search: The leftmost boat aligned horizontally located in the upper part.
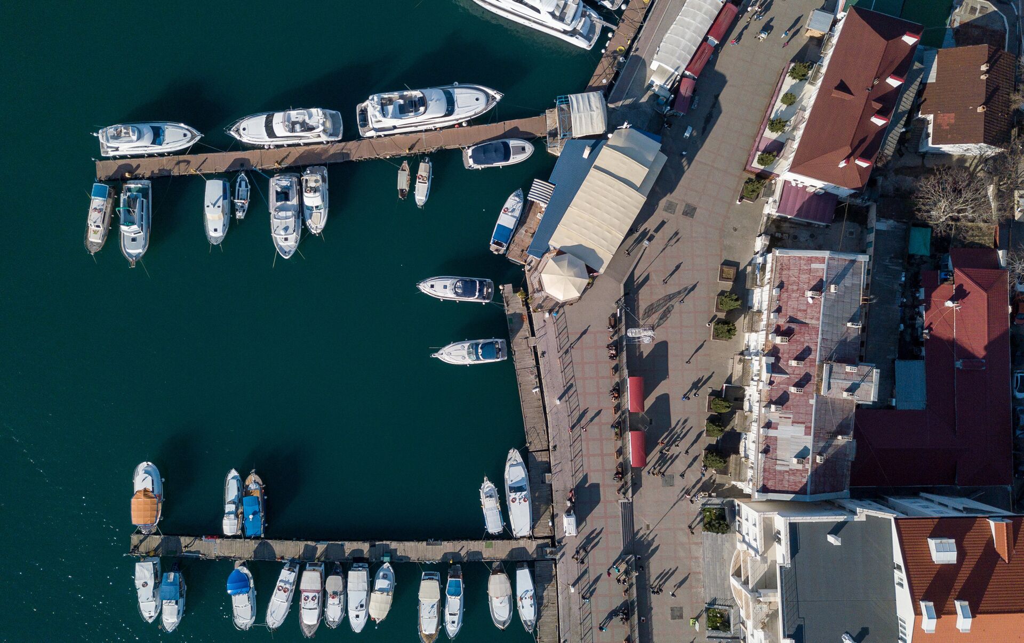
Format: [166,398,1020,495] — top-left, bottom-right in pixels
[98,122,225,160]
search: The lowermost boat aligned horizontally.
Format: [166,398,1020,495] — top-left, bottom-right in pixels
[427,338,509,367]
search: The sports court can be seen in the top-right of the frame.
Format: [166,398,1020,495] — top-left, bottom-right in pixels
[832,0,955,49]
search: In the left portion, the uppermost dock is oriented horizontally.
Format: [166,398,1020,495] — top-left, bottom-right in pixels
[96,115,547,180]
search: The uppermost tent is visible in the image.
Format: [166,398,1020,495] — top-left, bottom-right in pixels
[648,0,726,92]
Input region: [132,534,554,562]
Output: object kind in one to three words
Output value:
pier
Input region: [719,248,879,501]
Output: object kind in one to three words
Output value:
building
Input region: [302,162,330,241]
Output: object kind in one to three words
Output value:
boat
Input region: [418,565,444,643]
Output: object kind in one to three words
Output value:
boat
